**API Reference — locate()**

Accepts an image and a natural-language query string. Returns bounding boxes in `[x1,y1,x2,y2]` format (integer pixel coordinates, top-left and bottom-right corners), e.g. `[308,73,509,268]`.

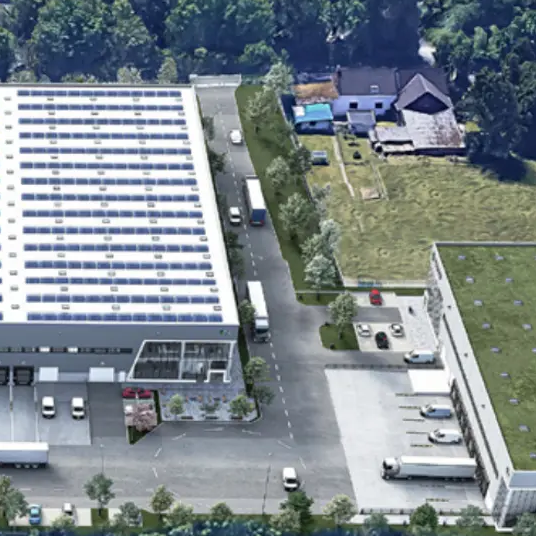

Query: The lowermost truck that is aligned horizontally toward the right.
[382,454,484,481]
